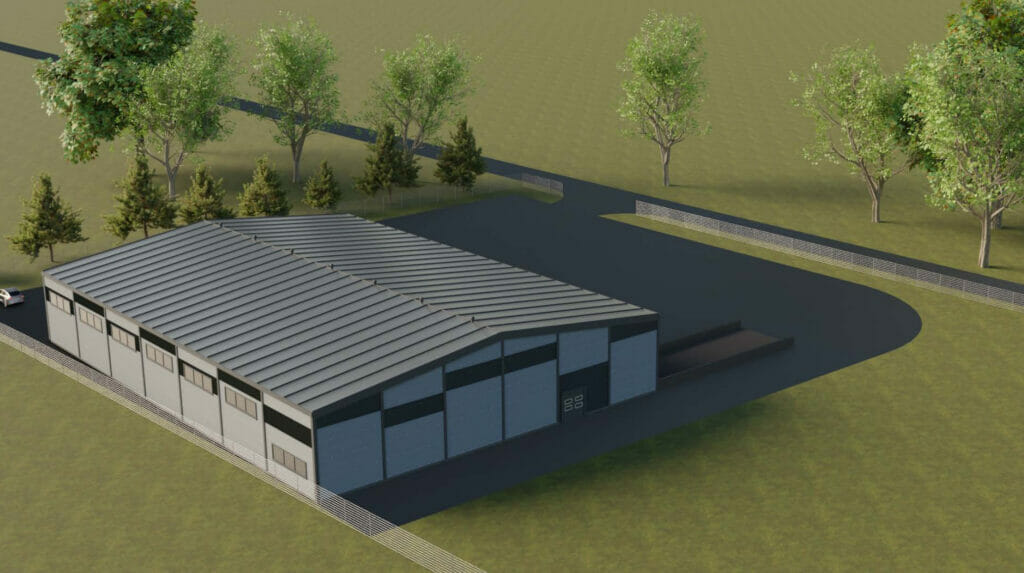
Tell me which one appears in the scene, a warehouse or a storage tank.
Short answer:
warehouse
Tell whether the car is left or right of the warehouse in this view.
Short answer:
left of it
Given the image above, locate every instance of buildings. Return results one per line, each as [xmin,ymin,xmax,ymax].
[41,213,661,502]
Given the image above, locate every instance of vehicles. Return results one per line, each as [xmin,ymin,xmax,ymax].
[0,286,23,308]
